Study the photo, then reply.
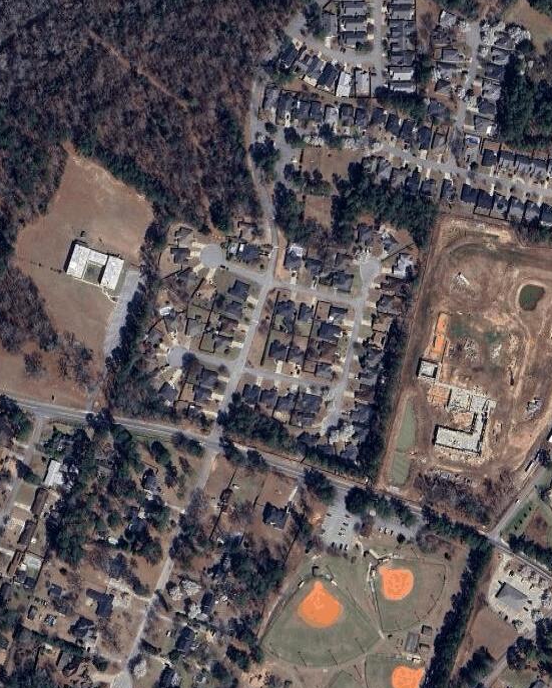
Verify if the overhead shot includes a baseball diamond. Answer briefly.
Yes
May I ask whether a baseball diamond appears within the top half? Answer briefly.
No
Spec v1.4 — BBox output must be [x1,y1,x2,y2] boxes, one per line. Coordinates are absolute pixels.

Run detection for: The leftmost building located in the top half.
[67,244,124,290]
